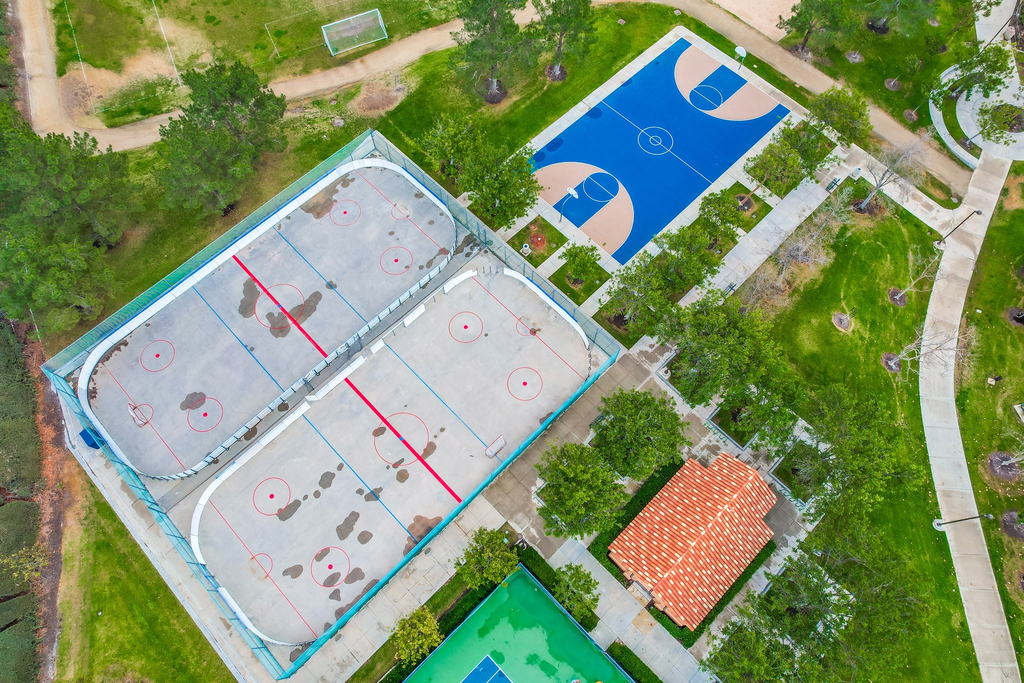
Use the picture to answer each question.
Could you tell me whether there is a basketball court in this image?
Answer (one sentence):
Yes, a basketball court is visible in the scene.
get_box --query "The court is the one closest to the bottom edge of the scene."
[408,564,631,683]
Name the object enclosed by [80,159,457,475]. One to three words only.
sports court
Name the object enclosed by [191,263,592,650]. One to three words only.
sports court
